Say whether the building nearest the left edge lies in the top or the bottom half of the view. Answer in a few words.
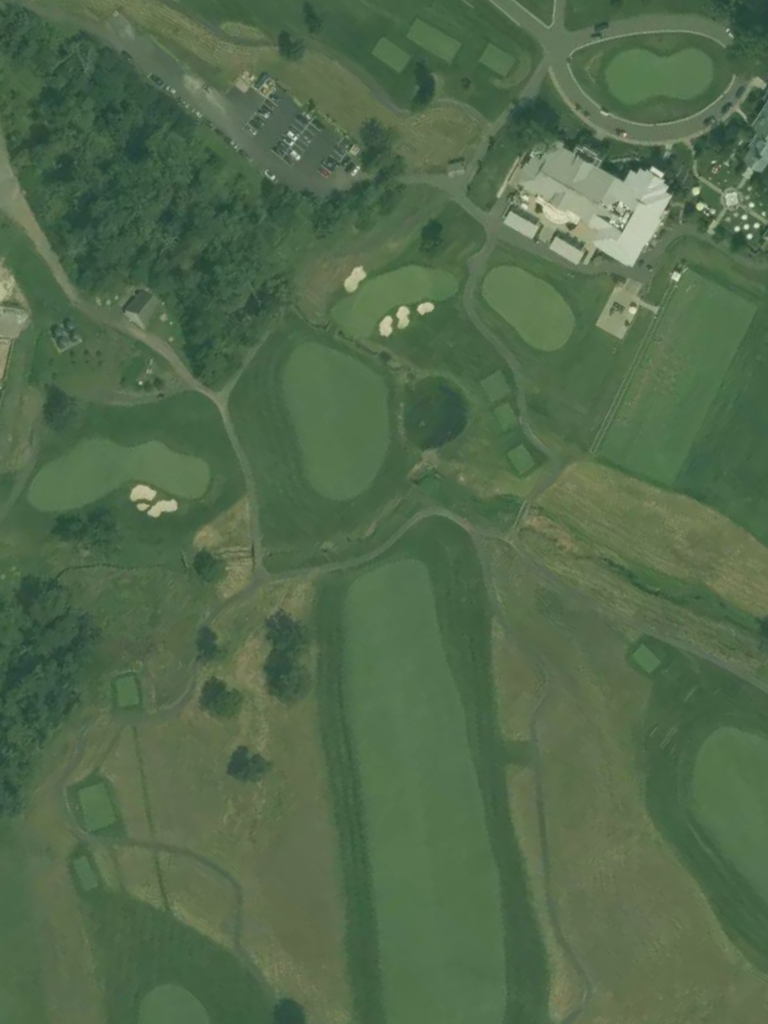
top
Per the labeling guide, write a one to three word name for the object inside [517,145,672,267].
building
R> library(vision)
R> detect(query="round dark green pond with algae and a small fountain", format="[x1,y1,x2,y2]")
[405,375,468,449]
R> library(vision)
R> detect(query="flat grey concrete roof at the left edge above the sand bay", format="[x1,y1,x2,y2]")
[0,307,28,337]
